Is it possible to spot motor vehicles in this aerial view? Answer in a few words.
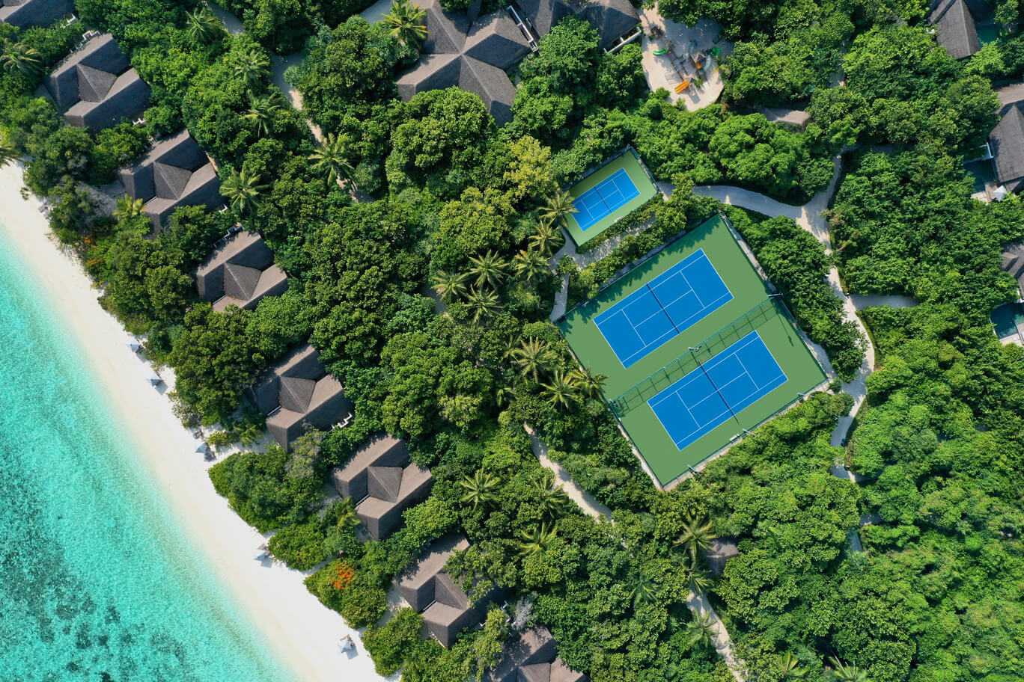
No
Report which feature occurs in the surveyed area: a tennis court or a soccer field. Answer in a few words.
tennis court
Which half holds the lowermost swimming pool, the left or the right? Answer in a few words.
right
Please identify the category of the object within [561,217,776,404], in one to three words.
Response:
tennis court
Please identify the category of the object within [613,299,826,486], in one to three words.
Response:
tennis court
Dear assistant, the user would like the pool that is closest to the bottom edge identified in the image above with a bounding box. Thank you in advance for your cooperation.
[995,300,1024,339]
